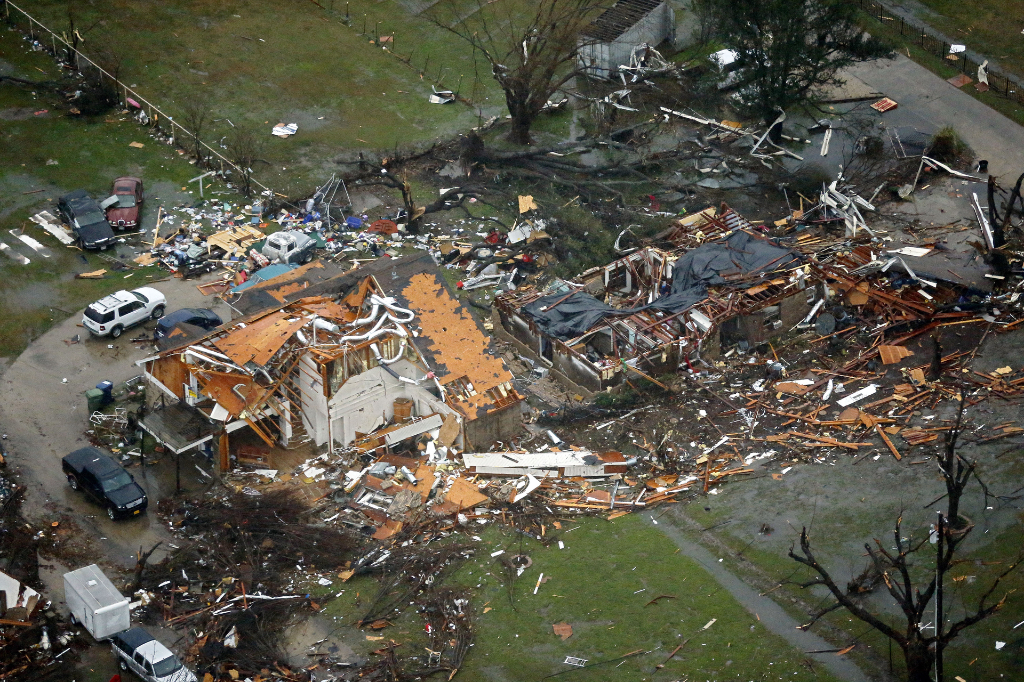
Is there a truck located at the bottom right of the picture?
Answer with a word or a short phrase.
No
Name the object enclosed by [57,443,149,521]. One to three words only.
truck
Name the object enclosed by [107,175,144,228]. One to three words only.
car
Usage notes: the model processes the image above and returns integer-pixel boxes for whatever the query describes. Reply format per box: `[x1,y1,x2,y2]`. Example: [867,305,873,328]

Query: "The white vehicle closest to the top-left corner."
[85,284,171,336]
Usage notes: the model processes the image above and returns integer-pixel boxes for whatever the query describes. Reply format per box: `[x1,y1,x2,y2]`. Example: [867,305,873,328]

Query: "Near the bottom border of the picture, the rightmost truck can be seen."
[110,629,185,682]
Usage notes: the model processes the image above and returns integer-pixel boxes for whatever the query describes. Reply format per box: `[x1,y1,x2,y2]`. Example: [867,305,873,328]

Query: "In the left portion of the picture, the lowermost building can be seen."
[135,251,529,498]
